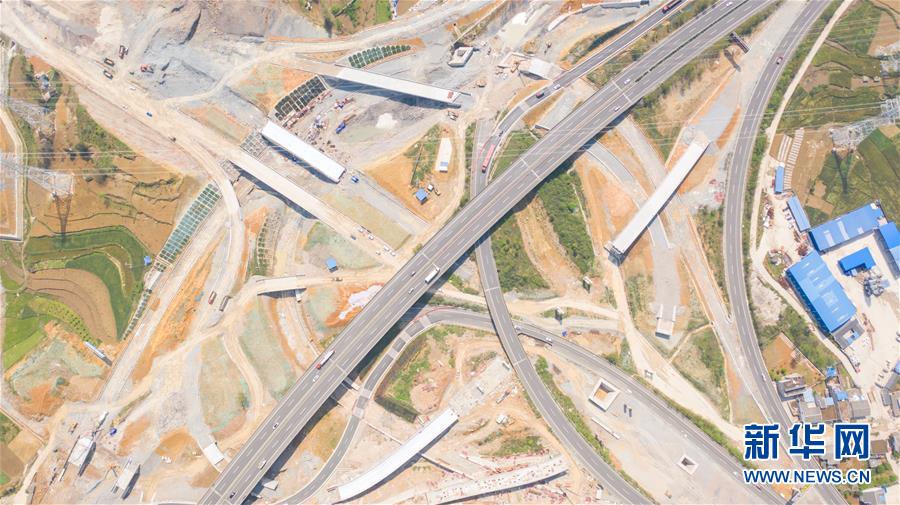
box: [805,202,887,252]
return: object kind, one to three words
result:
building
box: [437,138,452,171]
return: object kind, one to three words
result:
building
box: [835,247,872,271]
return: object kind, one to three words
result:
shed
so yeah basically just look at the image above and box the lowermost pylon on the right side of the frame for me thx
[831,101,900,149]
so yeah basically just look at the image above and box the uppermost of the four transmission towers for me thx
[874,41,900,69]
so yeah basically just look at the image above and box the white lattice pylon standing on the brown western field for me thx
[0,150,74,194]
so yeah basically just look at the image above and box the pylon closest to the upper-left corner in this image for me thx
[0,78,56,126]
